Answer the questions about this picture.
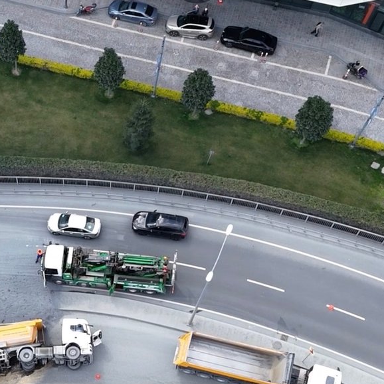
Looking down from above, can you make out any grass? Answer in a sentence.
Yes, grass can be seen from above here.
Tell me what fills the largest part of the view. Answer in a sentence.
The largest share of the image is taken up by paved ground.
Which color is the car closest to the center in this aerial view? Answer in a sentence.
From above, the car closest to the center appears black.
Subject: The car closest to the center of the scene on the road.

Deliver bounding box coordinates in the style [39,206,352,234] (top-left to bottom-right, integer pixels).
[132,212,188,241]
